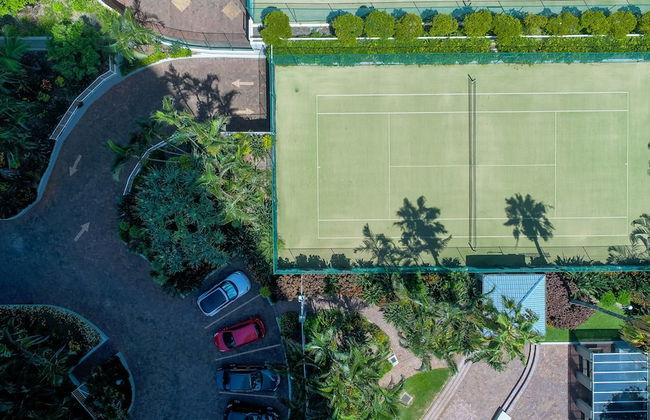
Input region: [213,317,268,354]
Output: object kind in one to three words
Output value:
car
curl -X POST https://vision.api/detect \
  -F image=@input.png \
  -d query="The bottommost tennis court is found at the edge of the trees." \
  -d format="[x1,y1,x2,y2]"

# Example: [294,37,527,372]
[274,65,650,267]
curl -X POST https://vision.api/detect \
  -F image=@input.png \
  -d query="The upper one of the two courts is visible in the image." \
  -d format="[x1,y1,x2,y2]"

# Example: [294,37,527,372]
[253,0,650,22]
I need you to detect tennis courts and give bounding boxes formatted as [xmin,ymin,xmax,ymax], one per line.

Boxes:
[274,65,650,267]
[253,0,650,22]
